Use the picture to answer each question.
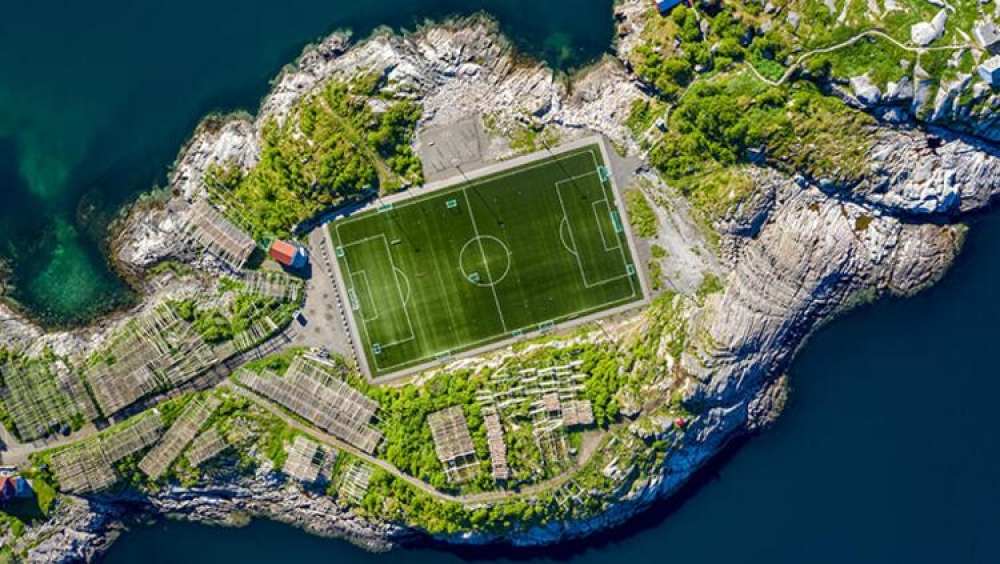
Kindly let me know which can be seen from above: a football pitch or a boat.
football pitch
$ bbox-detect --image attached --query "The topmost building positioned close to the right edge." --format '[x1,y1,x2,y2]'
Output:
[966,12,1000,58]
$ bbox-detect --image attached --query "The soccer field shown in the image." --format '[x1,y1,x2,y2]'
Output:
[320,135,651,384]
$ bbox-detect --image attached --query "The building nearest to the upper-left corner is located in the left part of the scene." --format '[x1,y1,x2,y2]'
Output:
[266,235,304,268]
